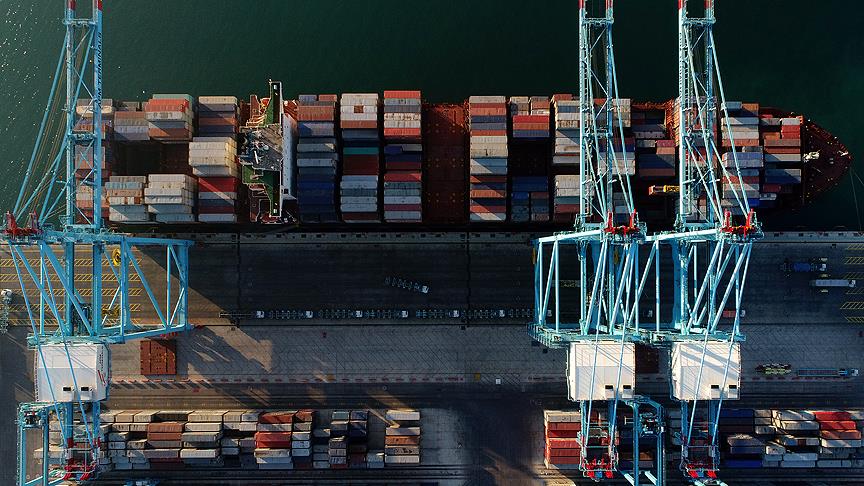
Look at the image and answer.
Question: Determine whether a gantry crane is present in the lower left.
Yes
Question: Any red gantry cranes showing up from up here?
No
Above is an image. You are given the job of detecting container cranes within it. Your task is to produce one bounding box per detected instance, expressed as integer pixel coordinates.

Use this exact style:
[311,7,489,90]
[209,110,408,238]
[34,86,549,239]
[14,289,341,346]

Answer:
[599,0,764,483]
[6,0,203,483]
[11,395,83,486]
[518,0,647,483]
[615,395,666,486]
